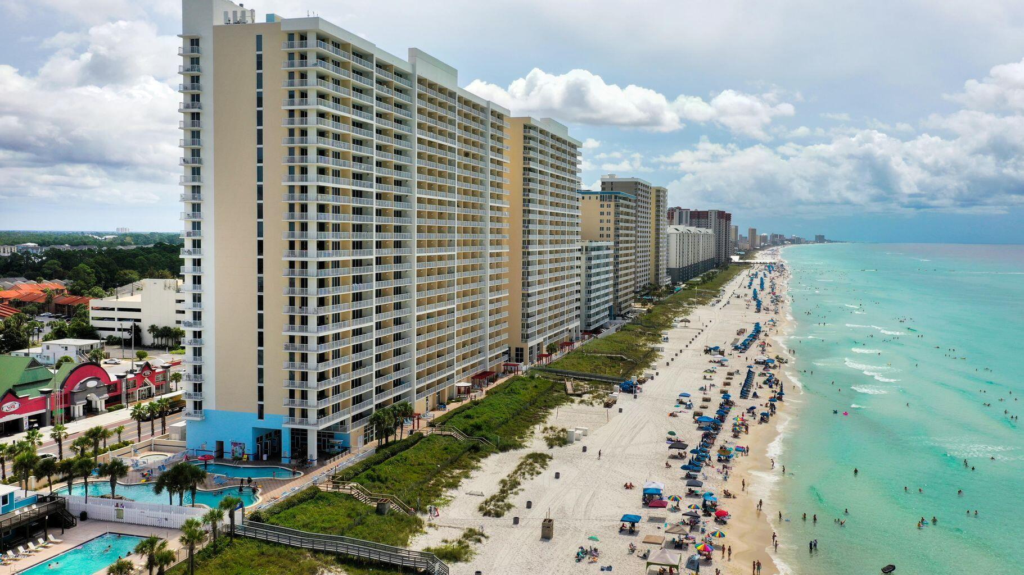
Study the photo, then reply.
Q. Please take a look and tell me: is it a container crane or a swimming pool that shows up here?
swimming pool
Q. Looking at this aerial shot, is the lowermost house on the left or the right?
left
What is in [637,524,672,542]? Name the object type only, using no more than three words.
tent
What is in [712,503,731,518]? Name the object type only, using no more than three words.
umbrella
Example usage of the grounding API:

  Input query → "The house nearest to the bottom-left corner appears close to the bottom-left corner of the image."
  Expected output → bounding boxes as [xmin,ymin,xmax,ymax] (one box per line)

[0,481,89,545]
